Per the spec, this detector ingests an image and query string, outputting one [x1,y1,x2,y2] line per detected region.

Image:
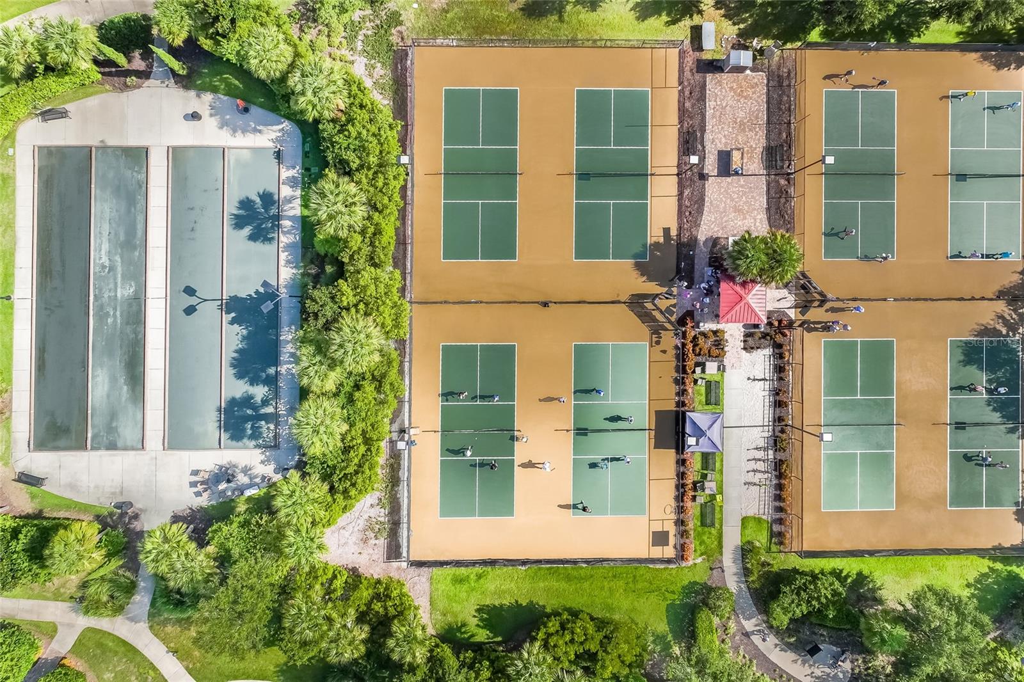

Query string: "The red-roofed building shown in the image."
[712,272,766,321]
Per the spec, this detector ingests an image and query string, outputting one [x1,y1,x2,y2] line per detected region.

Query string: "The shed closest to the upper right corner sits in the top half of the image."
[726,50,756,76]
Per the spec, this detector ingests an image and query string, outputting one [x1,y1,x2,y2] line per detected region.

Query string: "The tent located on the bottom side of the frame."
[677,410,721,450]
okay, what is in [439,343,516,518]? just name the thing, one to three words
sports court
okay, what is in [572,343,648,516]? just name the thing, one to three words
sports court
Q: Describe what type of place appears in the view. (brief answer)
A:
sports ground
